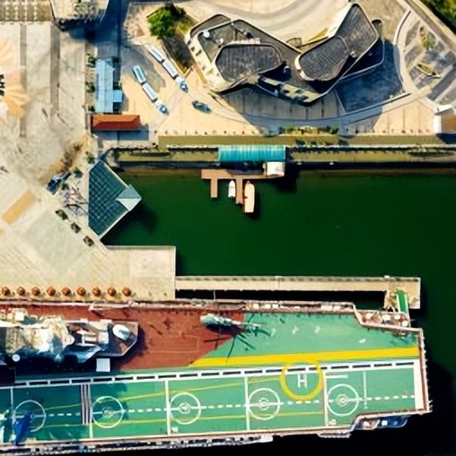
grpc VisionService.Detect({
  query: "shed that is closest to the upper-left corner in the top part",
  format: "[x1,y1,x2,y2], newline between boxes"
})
[95,57,123,112]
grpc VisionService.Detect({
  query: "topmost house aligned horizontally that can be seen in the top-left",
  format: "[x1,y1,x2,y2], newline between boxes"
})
[91,114,140,132]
